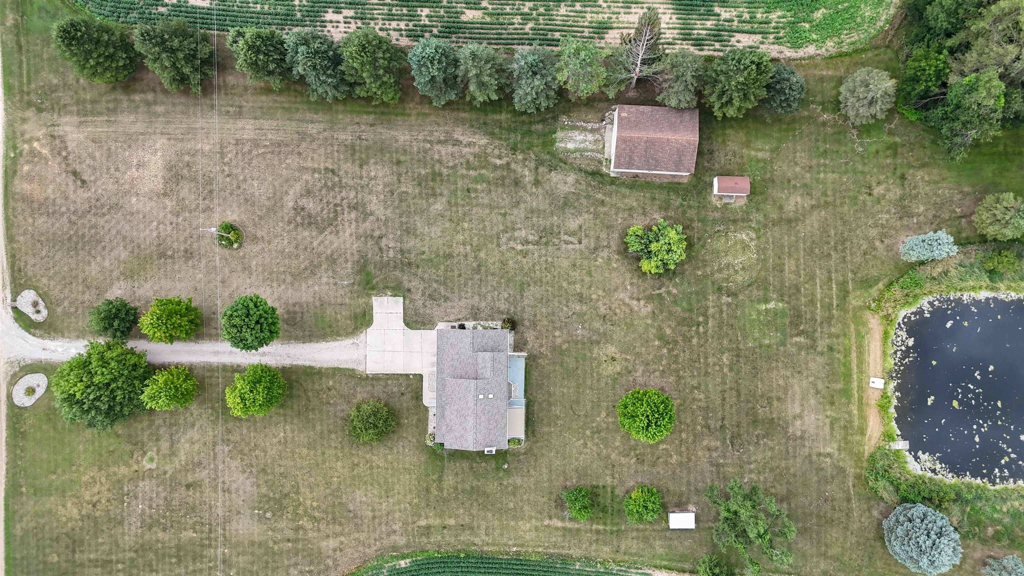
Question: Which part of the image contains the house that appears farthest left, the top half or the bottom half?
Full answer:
You can find the house that appears farthest left in the bottom half.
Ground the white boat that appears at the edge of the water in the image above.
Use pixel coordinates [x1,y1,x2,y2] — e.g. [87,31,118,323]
[869,377,886,389]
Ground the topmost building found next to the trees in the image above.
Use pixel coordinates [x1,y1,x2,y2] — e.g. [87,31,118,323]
[611,104,700,177]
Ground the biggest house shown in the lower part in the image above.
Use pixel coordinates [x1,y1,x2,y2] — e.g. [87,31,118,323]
[435,329,512,454]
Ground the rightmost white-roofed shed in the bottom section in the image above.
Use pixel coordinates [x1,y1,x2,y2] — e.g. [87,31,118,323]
[667,507,694,528]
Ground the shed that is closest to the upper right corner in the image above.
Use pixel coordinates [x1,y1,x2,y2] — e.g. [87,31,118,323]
[713,176,751,196]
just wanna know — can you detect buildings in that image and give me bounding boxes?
[435,329,512,454]
[667,507,694,528]
[713,176,751,196]
[611,104,700,177]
